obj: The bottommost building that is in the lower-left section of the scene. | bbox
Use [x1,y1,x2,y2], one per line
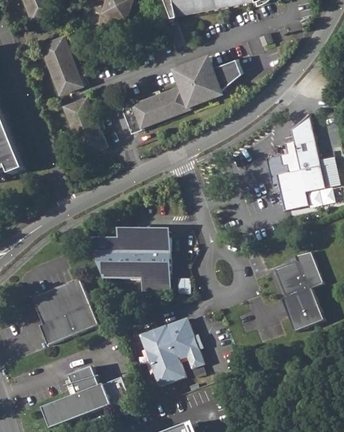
[42,366,124,423]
